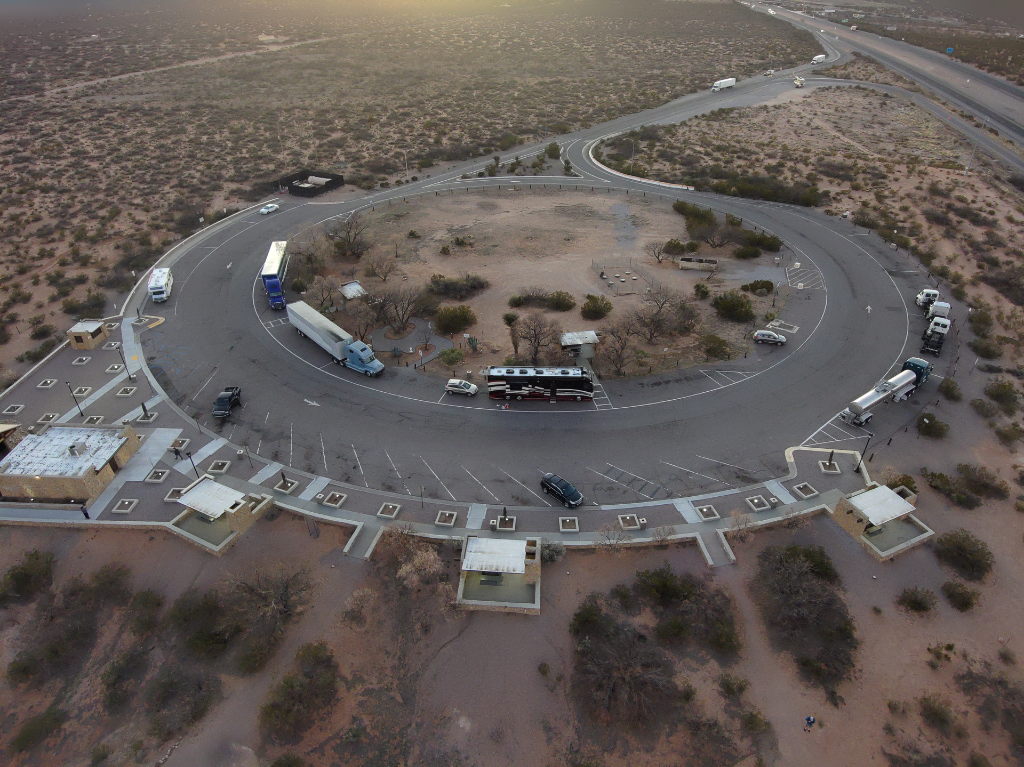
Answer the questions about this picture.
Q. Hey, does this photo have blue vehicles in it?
Yes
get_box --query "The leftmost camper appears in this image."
[148,267,172,300]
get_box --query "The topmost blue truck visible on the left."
[264,276,285,307]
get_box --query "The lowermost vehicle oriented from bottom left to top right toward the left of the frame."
[209,386,245,417]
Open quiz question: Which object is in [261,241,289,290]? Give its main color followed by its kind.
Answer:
white trailer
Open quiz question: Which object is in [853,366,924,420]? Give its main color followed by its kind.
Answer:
gray trailer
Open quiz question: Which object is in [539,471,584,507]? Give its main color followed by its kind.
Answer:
black car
